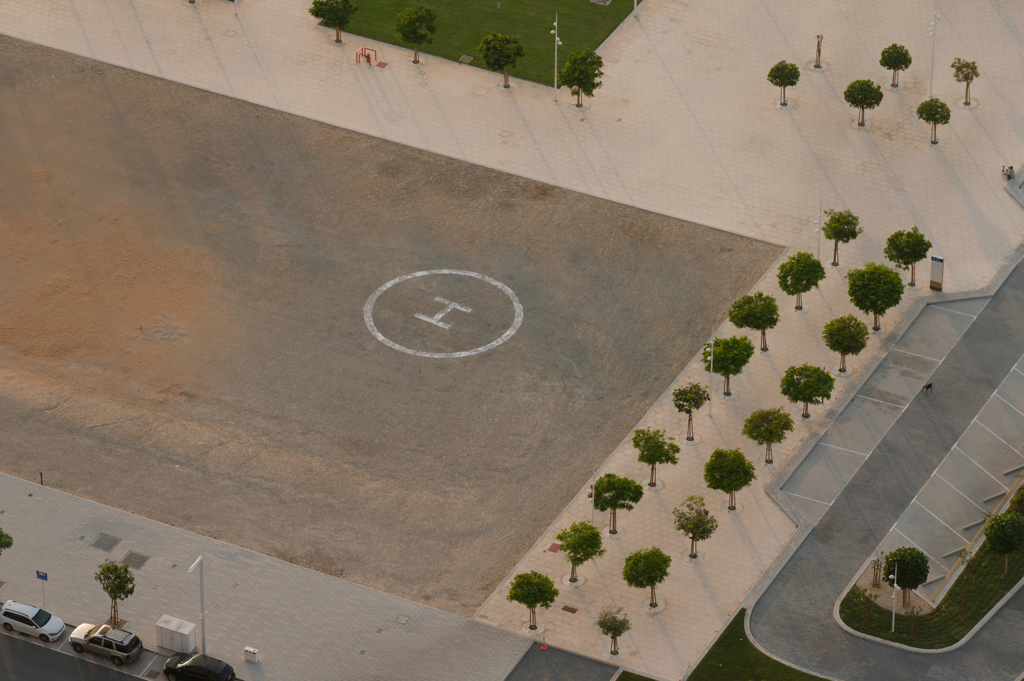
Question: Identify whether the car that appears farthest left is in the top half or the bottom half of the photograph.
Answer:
bottom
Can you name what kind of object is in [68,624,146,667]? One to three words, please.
car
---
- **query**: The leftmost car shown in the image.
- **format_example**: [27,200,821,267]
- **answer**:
[0,598,67,643]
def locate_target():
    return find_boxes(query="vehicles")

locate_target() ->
[0,598,67,643]
[68,624,146,667]
[162,654,237,681]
